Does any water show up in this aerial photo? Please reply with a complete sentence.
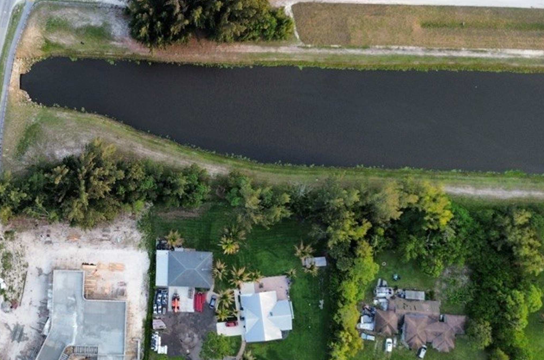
Yes, water can be seen from above here.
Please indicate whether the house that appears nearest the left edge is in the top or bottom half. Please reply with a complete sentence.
The house that appears nearest the left edge sits in the bottom half of the picture.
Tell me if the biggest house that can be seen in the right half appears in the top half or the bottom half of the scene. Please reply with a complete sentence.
The biggest house that can be seen in the right half sits in the bottom half of the picture.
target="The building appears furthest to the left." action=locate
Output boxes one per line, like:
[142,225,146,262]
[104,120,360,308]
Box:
[36,270,126,360]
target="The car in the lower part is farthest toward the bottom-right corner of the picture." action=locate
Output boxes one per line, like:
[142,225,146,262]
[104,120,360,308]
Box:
[415,347,427,360]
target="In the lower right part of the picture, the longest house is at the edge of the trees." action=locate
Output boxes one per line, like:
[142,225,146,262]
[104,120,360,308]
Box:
[372,298,466,352]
